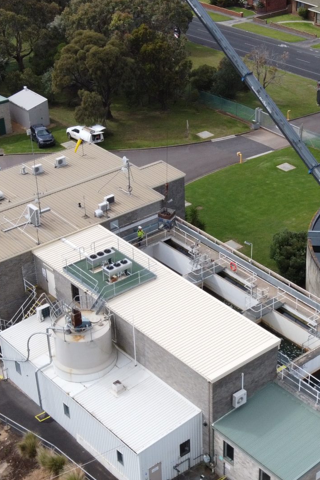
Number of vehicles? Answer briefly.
2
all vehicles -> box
[60,118,115,142]
[28,118,48,146]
